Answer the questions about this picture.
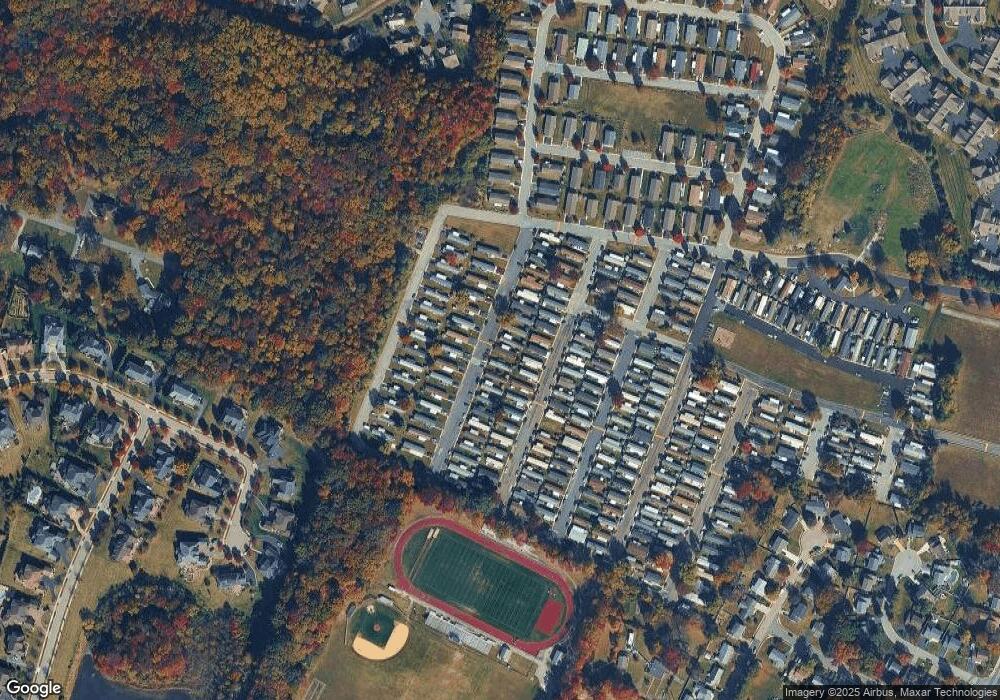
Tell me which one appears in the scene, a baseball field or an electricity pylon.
baseball field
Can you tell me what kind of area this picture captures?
residential area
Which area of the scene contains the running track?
bottom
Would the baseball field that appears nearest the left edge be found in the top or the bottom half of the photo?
bottom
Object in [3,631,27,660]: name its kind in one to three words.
house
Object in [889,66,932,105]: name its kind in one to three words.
building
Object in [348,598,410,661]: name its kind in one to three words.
baseball field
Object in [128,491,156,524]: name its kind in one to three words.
house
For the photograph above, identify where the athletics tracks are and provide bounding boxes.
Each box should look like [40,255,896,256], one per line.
[395,516,573,656]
